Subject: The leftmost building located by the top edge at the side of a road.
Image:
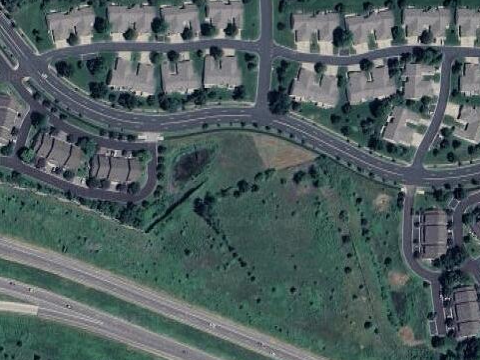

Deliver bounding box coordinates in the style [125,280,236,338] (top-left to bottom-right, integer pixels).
[44,5,94,44]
